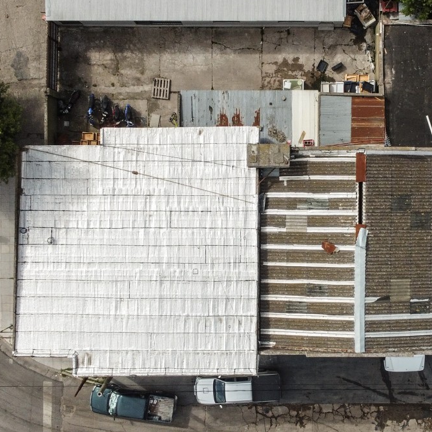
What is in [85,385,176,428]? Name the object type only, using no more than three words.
truck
